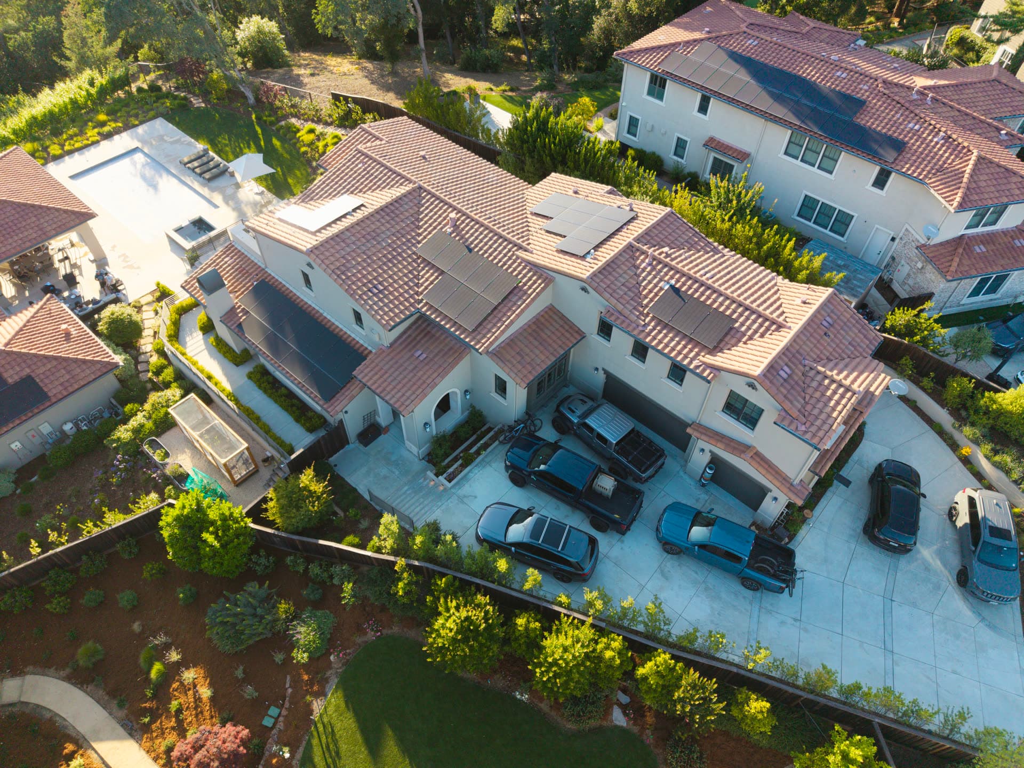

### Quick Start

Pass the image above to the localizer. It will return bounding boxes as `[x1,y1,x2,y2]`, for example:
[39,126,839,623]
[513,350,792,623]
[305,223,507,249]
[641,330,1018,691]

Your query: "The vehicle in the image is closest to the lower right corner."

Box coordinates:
[952,491,1024,616]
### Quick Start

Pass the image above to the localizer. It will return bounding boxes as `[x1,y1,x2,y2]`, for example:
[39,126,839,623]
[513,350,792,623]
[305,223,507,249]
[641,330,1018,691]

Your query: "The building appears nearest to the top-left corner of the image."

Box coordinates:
[0,144,108,268]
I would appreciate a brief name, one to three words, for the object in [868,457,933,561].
car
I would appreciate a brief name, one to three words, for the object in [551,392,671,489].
truck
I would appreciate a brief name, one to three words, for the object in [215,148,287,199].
umbrella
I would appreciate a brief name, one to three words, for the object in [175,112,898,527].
house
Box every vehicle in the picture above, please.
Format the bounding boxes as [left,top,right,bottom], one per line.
[652,502,800,597]
[986,307,1024,357]
[470,505,603,584]
[952,491,1024,616]
[551,392,671,489]
[505,436,650,539]
[868,457,933,561]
